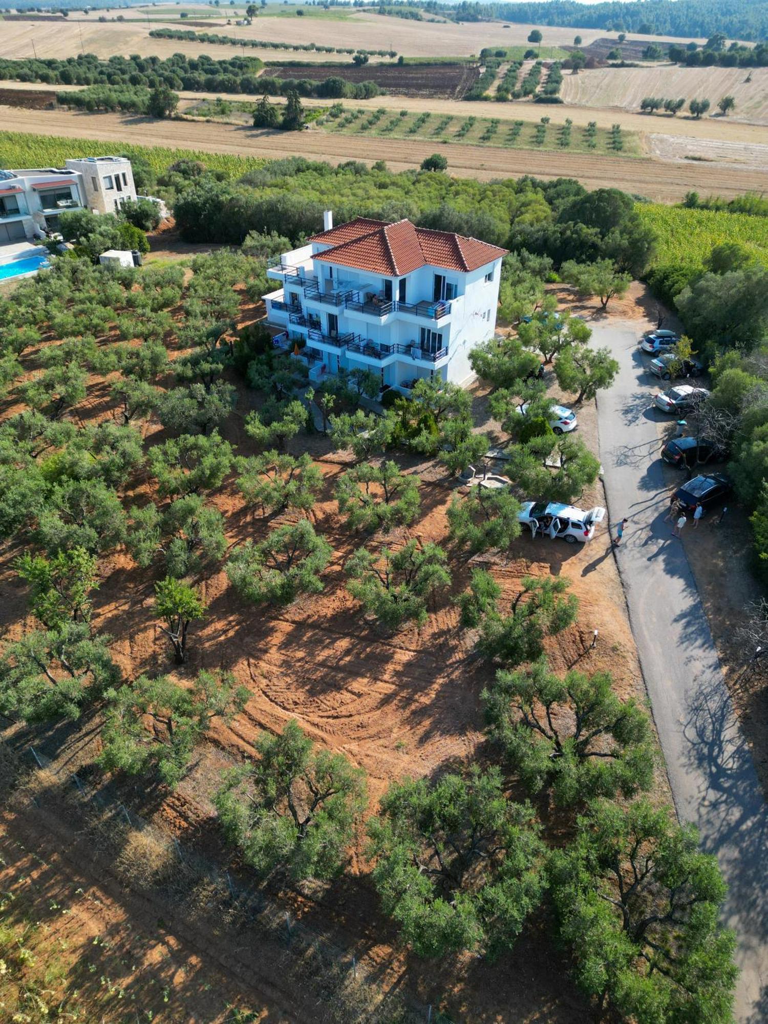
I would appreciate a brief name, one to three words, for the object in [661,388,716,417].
car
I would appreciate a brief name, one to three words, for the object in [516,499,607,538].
car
